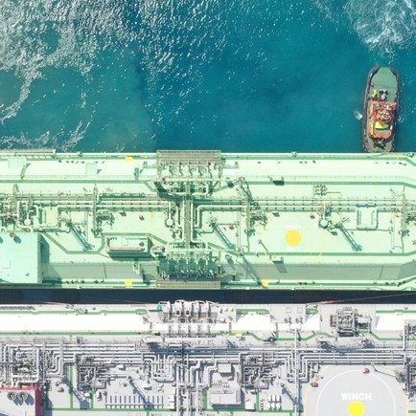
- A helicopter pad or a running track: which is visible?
helicopter pad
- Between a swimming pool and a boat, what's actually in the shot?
boat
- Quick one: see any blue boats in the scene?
No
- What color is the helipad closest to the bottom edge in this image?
white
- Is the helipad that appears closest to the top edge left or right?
right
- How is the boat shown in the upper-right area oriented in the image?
vertically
